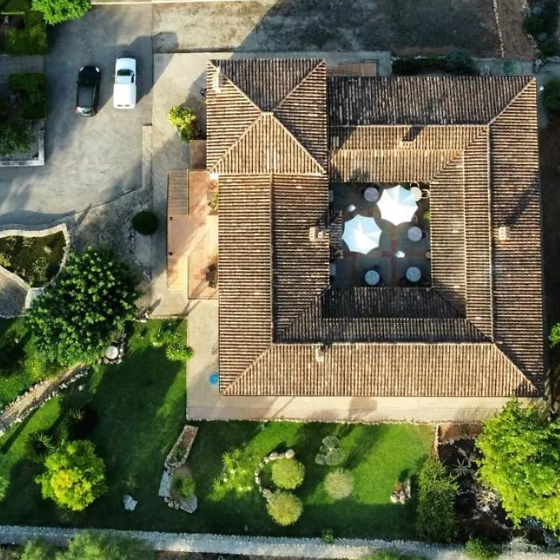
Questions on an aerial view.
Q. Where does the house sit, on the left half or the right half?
right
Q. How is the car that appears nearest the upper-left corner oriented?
vertically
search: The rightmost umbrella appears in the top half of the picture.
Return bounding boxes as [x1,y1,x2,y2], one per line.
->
[376,184,415,225]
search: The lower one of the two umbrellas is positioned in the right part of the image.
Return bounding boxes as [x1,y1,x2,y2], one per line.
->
[345,215,378,252]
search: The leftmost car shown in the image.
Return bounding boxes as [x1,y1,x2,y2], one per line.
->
[75,66,101,115]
